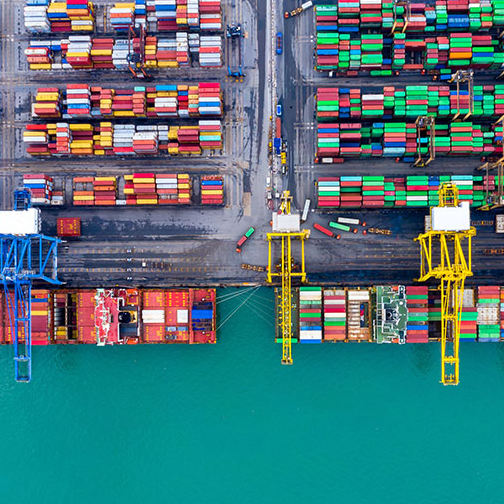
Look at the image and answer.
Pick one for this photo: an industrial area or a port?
port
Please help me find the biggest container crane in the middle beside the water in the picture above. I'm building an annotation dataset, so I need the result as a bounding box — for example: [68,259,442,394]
[263,185,309,365]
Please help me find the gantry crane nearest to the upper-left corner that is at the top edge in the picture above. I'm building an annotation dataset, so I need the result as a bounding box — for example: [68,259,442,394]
[128,23,153,80]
